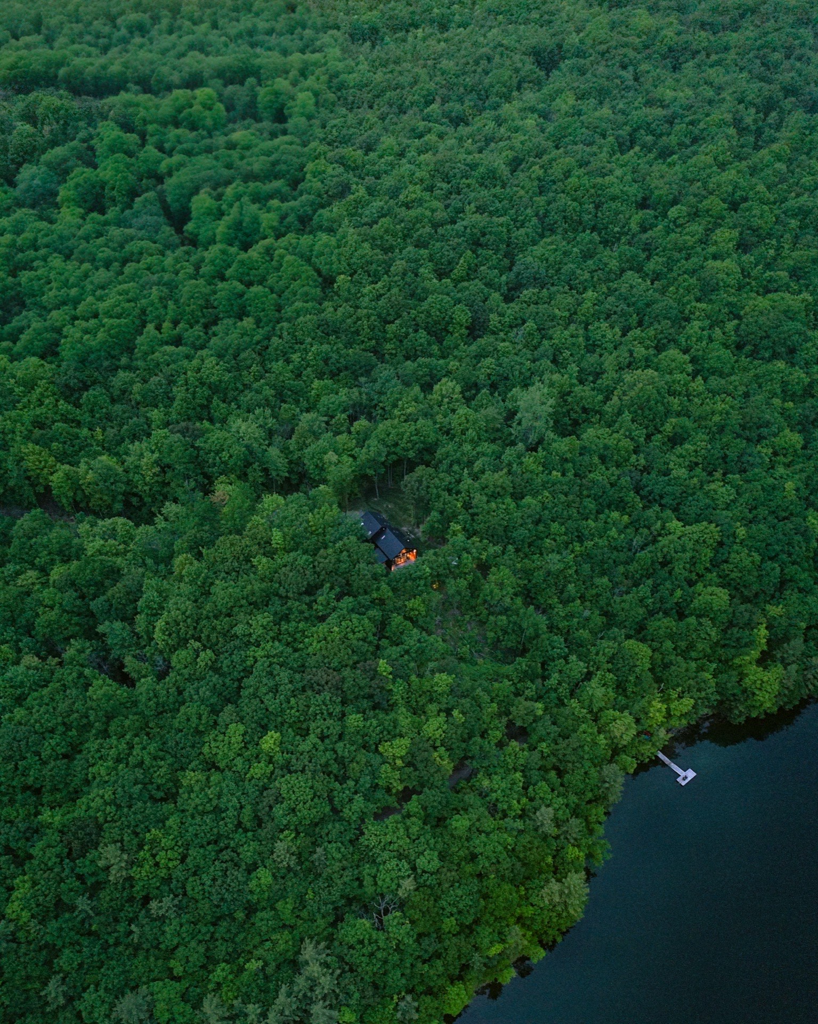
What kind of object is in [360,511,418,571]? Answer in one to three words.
building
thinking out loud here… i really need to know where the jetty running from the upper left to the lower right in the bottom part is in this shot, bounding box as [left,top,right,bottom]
[652,745,696,786]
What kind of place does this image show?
forest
